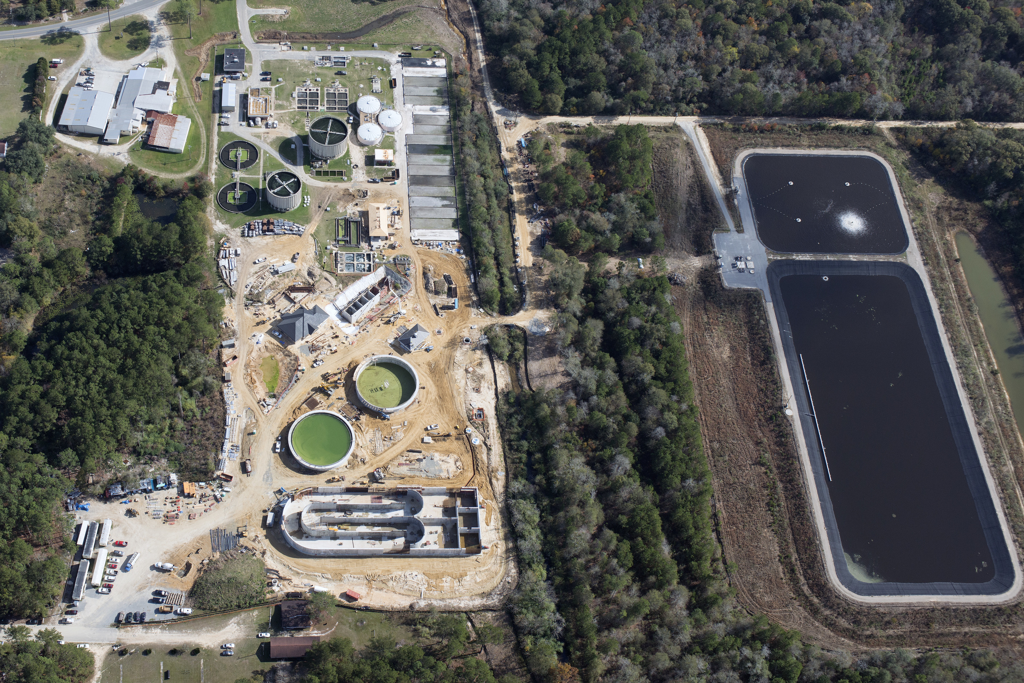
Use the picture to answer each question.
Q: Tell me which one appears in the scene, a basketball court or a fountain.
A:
fountain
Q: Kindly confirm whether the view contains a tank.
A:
Yes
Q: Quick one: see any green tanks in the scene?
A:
Yes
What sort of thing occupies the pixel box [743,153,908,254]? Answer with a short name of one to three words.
pond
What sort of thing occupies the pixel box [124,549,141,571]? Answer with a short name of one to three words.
vehicle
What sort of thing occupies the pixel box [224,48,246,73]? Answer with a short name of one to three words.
building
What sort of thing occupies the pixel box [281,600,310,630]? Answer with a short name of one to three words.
house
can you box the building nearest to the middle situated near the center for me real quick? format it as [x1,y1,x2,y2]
[399,324,429,355]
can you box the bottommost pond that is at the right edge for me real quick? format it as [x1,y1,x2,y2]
[767,260,1015,596]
